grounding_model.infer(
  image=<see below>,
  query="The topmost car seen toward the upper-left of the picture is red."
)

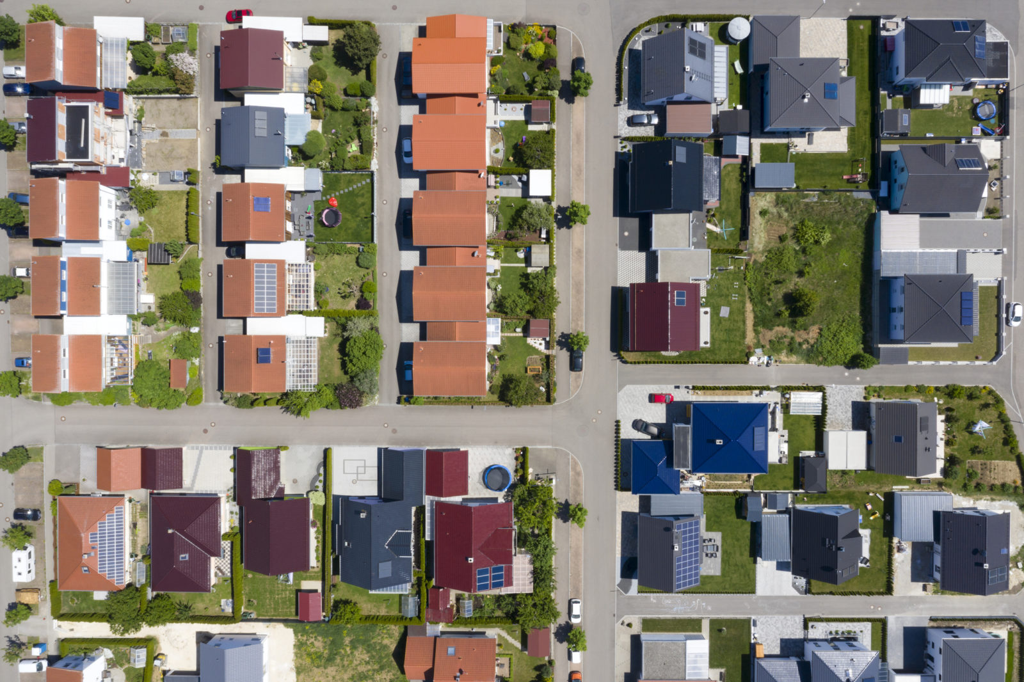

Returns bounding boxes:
[227,9,253,22]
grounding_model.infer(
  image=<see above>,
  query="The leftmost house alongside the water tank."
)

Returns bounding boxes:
[640,27,714,109]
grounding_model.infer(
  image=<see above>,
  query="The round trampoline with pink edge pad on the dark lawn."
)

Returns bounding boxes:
[320,206,341,227]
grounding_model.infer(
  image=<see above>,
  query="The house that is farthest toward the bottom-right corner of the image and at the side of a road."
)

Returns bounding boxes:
[927,629,1005,682]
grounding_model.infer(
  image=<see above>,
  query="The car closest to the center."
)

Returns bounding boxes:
[571,349,584,372]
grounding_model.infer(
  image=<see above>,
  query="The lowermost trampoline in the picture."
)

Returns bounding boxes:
[483,464,511,493]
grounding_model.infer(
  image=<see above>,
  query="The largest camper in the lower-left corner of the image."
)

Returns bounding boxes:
[13,544,34,583]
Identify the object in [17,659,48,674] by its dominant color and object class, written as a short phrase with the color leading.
white vehicle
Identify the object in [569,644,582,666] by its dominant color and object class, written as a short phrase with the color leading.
white vehicle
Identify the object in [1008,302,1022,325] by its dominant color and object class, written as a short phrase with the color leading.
white car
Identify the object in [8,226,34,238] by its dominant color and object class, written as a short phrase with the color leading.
black vehicle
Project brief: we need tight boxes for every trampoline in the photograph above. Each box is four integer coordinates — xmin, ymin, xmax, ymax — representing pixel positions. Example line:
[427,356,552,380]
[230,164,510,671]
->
[977,98,1000,120]
[320,206,341,227]
[483,464,511,493]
